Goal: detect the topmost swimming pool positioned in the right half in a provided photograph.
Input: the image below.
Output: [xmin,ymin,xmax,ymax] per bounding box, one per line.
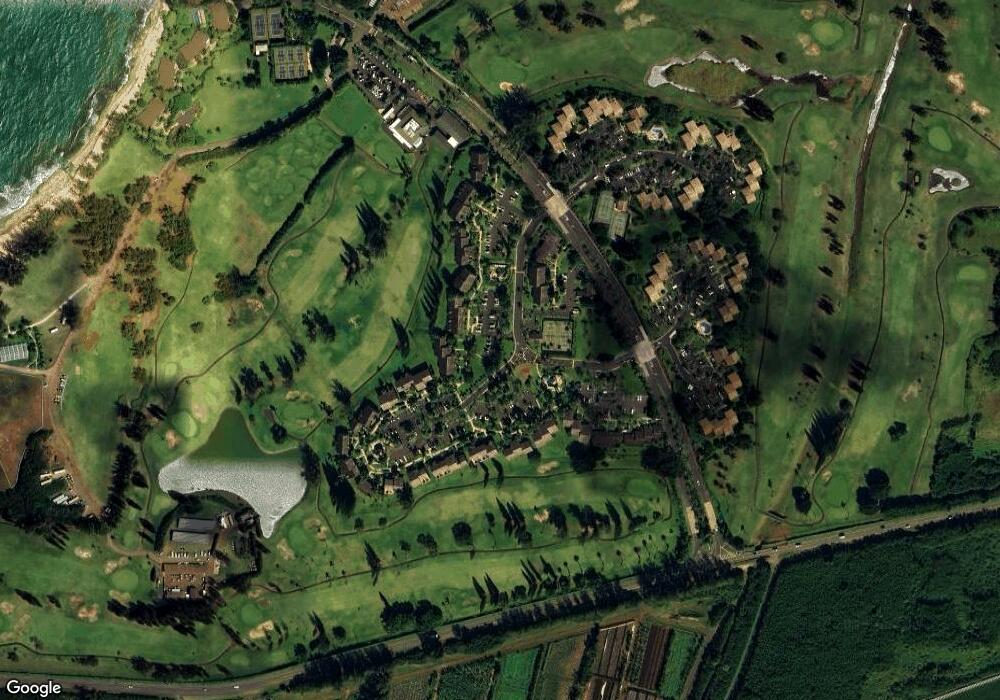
[647,124,665,139]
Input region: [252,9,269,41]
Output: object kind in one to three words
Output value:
tennis court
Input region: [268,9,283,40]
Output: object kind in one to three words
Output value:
tennis court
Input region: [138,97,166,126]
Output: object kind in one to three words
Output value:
house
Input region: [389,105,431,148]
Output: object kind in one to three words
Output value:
building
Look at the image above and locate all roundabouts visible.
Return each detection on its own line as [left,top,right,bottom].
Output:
[512,346,539,383]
